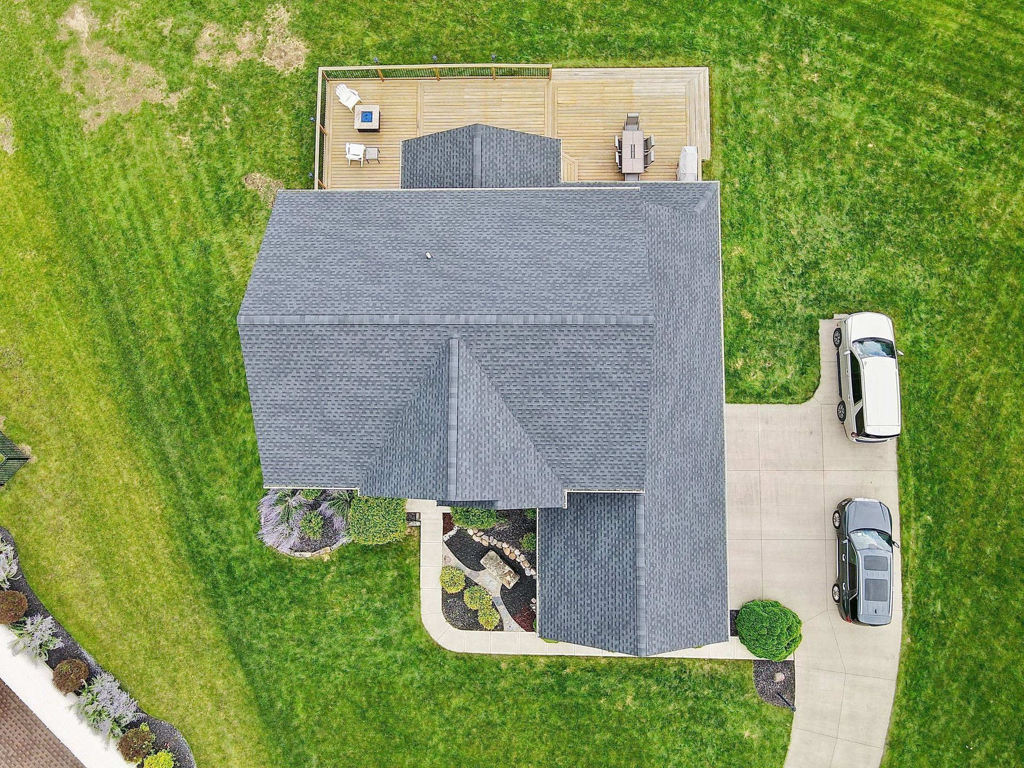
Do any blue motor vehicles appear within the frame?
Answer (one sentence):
No, I can't see a single blue motor vehicle in this photo.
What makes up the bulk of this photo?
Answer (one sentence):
Most of the picture is covered by grass.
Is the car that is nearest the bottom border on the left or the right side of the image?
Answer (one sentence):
The car that is nearest the bottom border is on the right side of the image.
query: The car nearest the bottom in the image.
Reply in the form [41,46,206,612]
[832,497,899,625]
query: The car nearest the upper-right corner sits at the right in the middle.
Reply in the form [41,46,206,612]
[833,310,902,443]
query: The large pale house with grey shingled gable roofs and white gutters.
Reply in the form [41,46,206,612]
[238,124,730,657]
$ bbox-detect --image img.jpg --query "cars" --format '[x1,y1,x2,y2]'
[832,497,899,625]
[833,310,902,443]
